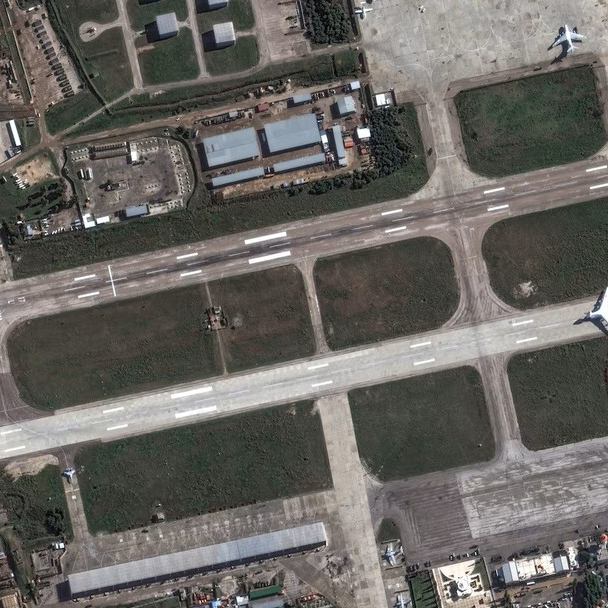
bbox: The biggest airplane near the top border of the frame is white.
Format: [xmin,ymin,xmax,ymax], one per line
[554,25,588,55]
